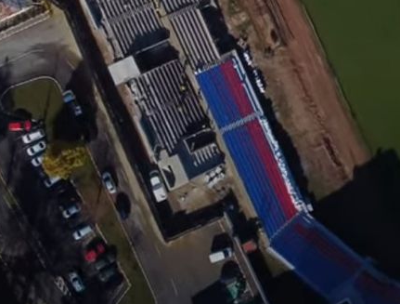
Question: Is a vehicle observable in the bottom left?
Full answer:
Yes, you'll find a vehicle in the bottom left.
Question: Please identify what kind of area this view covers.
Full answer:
The area seen from above is a sports ground.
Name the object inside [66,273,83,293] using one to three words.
car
